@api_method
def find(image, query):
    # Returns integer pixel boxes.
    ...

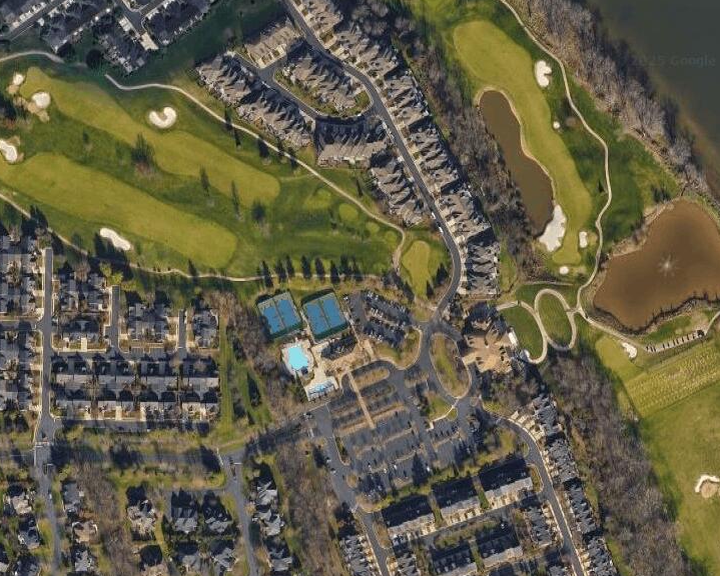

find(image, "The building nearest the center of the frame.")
[319,336,361,368]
